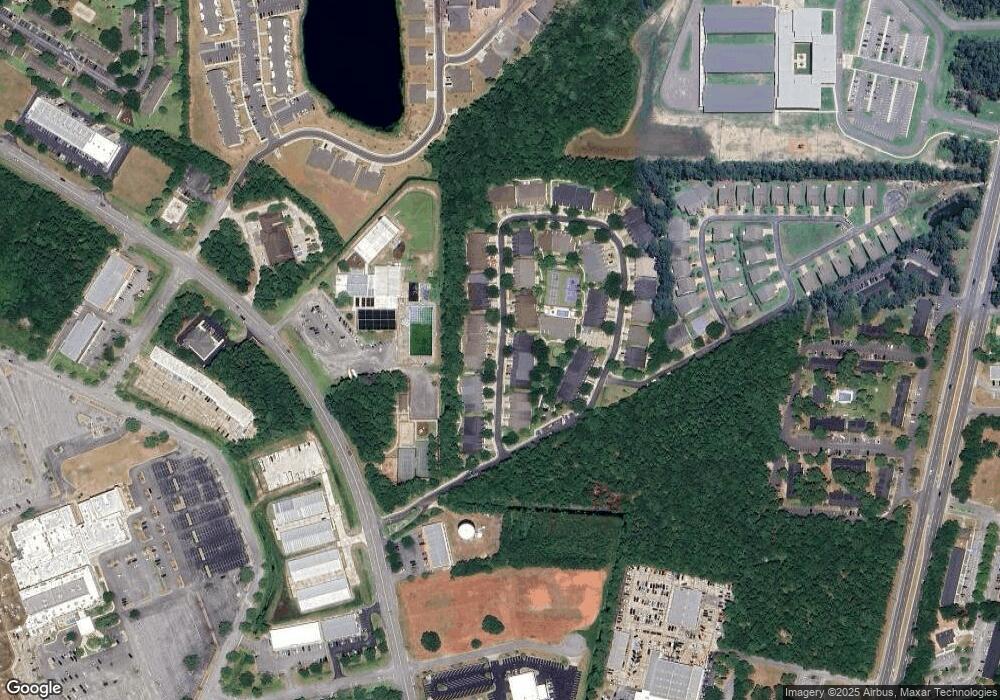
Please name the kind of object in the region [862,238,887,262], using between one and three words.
house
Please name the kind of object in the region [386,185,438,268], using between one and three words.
sports field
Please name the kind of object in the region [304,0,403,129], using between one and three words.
pond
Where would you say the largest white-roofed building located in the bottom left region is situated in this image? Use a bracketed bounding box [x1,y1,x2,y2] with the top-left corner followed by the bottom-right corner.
[10,488,131,635]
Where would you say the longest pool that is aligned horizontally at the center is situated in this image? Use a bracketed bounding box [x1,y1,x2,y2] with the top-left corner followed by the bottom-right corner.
[544,306,570,318]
